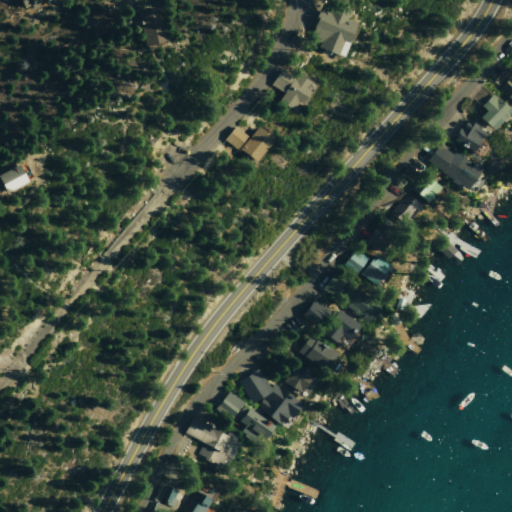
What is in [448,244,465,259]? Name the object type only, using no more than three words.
boat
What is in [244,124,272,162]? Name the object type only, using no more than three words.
building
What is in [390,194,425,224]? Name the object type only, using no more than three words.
house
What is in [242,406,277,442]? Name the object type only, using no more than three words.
house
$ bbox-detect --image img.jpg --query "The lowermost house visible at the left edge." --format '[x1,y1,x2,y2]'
[0,164,30,192]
